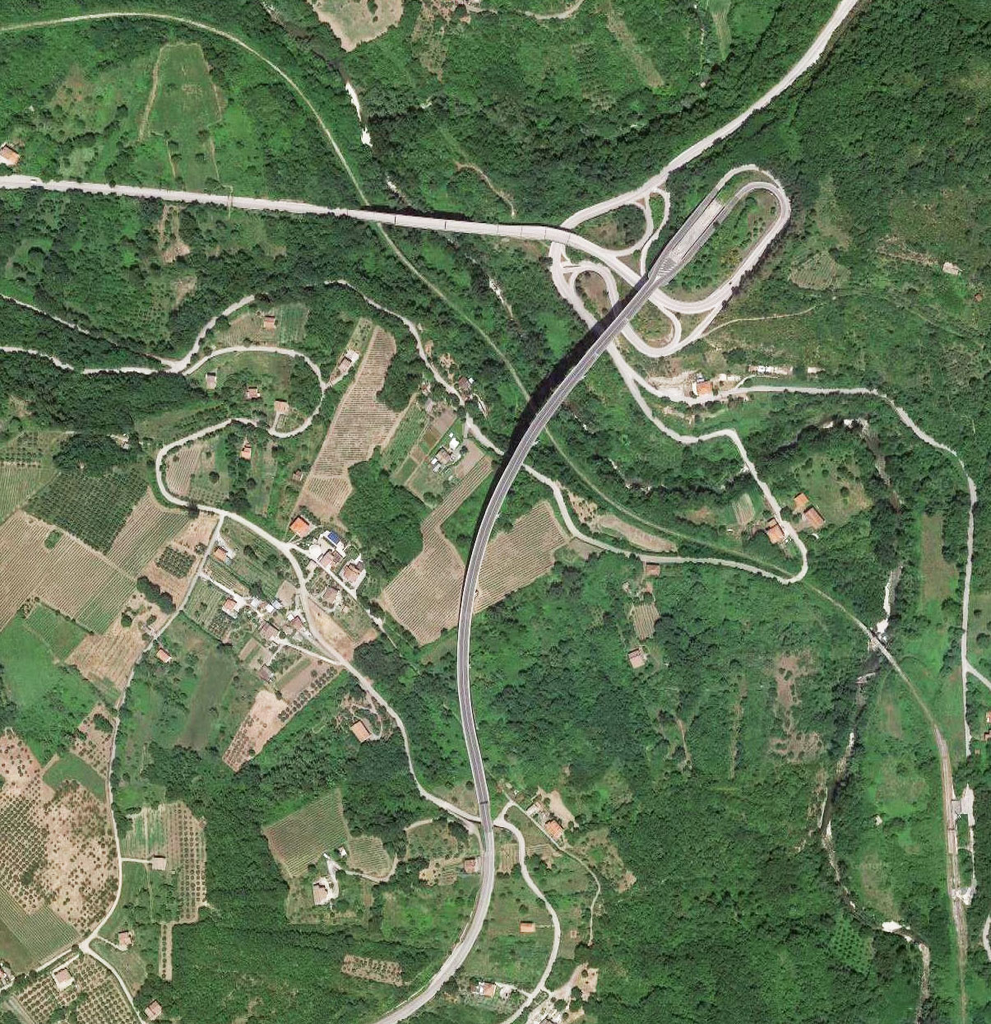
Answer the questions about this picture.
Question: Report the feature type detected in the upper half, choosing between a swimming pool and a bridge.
bridge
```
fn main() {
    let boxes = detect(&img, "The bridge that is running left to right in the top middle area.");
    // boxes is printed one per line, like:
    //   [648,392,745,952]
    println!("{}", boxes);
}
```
[349,207,585,251]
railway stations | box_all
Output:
[943,761,976,931]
